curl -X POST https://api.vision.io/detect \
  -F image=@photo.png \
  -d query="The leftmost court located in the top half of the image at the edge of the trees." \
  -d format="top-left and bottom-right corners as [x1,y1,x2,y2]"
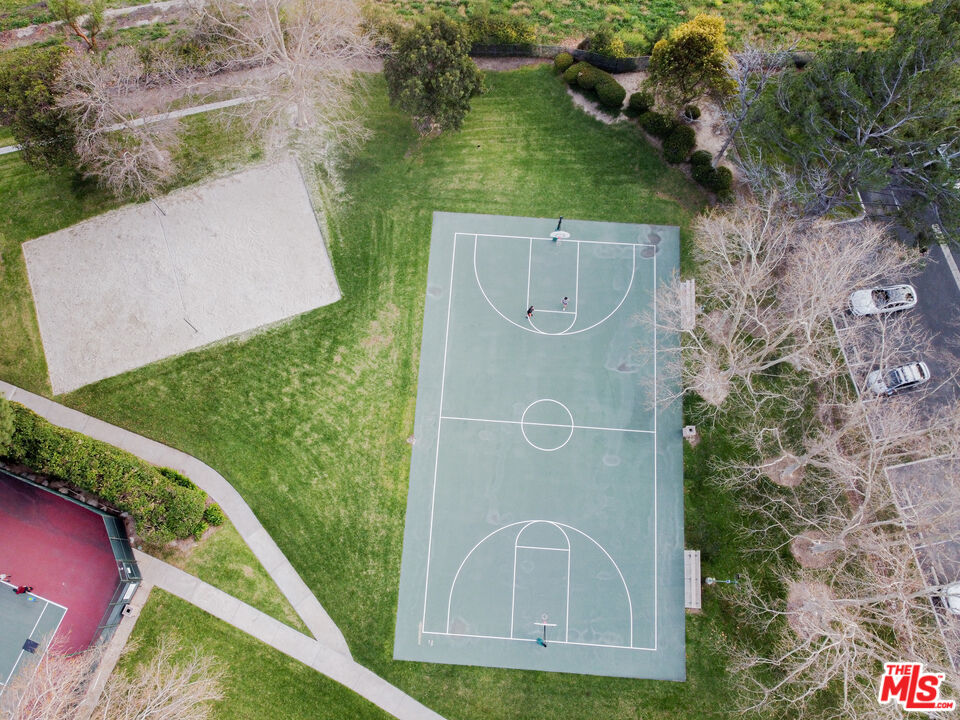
[22,160,341,394]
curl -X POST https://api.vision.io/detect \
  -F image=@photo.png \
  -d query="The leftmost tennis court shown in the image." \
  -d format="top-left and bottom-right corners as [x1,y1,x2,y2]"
[0,461,130,720]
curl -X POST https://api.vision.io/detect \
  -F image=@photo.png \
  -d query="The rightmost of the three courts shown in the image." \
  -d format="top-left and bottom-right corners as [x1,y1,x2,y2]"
[393,211,685,681]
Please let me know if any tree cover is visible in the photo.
Yes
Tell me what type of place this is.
sports ground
